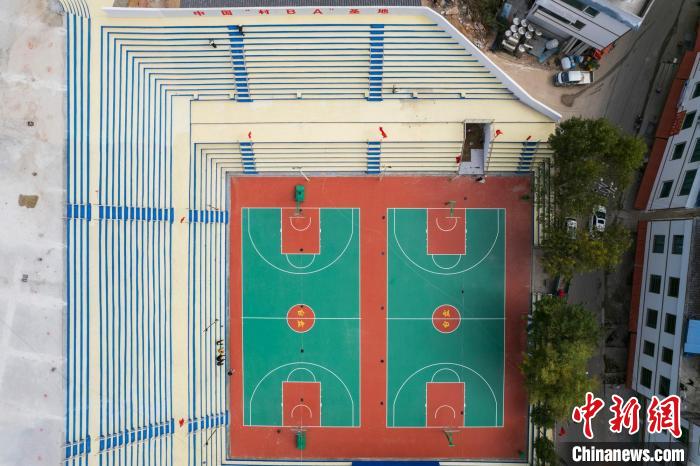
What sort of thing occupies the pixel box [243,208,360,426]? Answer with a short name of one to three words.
basketball court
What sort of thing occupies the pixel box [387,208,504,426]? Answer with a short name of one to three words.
basketball court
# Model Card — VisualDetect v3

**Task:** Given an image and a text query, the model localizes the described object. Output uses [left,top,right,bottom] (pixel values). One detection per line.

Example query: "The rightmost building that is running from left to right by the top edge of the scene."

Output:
[526,0,656,55]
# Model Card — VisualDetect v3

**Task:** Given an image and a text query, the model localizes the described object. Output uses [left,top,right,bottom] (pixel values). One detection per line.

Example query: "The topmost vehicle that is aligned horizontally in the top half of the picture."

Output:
[550,68,594,88]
